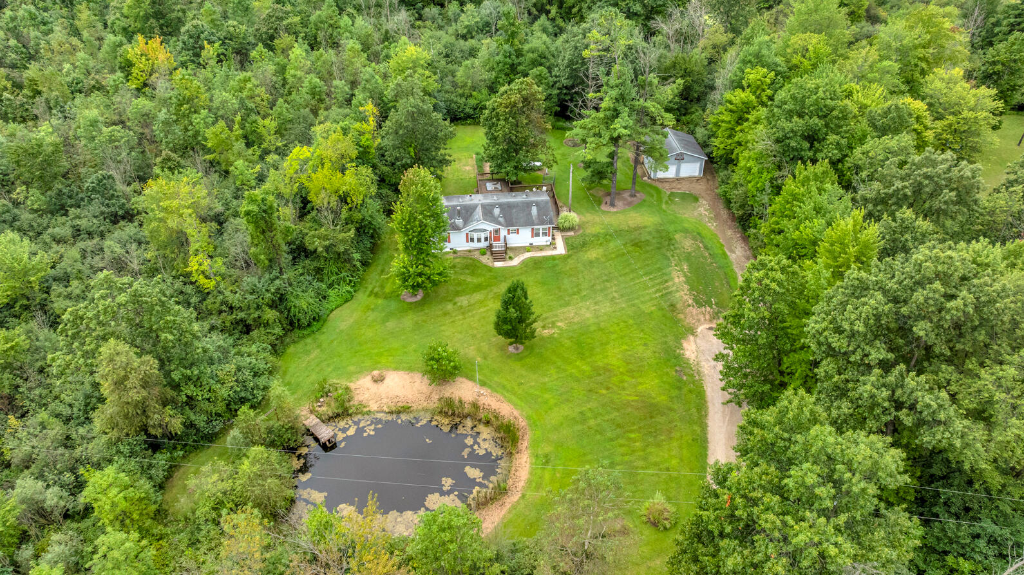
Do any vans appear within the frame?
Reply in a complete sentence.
No, the picture doesn't show any van.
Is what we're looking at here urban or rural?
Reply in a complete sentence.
The land in this view is best described as rural.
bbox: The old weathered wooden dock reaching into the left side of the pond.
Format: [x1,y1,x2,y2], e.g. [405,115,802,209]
[303,415,336,445]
